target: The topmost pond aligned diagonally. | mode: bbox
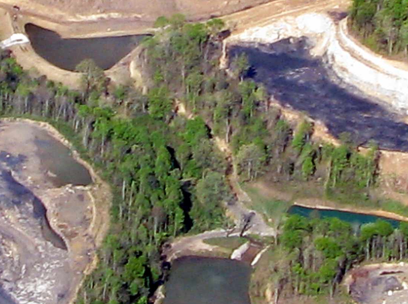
[35,134,91,186]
